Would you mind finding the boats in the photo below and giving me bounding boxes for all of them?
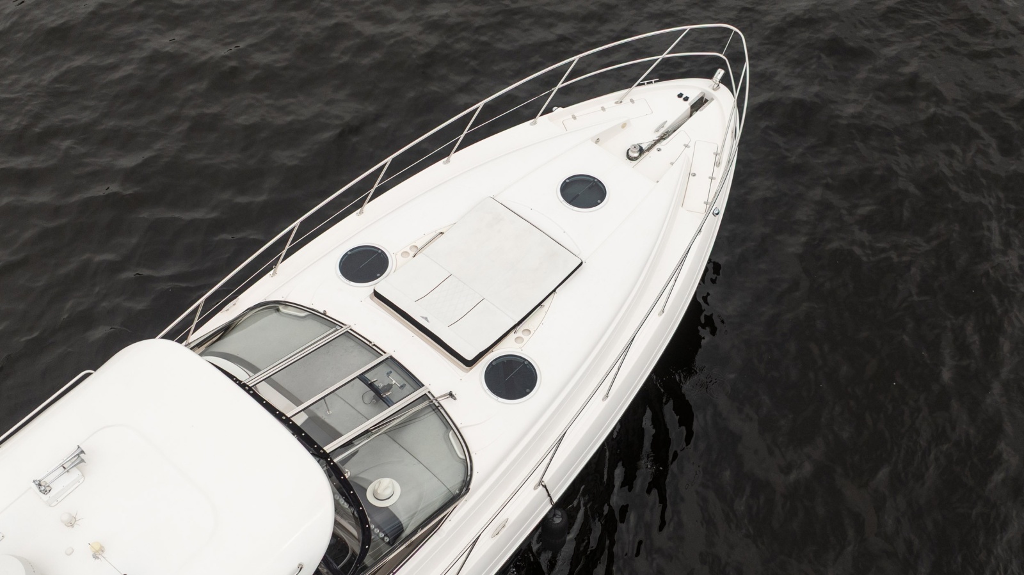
[0,23,749,575]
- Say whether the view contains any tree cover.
No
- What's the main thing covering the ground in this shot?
water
